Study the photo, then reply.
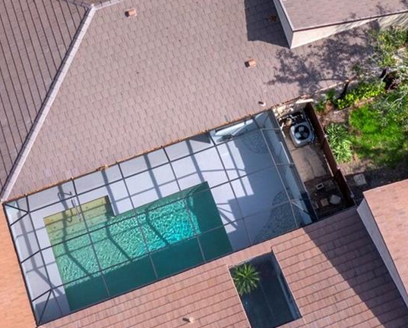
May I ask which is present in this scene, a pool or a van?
pool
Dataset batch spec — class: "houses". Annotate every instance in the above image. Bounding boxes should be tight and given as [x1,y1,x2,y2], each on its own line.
[0,0,408,200]
[36,181,408,328]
